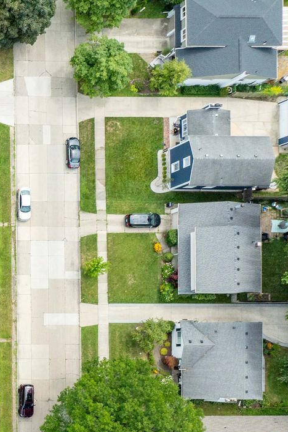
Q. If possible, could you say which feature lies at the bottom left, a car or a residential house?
car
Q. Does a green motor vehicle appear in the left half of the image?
No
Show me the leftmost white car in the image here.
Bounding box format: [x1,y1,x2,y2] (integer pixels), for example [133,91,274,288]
[14,187,29,222]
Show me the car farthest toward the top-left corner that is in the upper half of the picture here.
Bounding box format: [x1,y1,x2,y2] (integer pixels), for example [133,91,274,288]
[63,138,81,170]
